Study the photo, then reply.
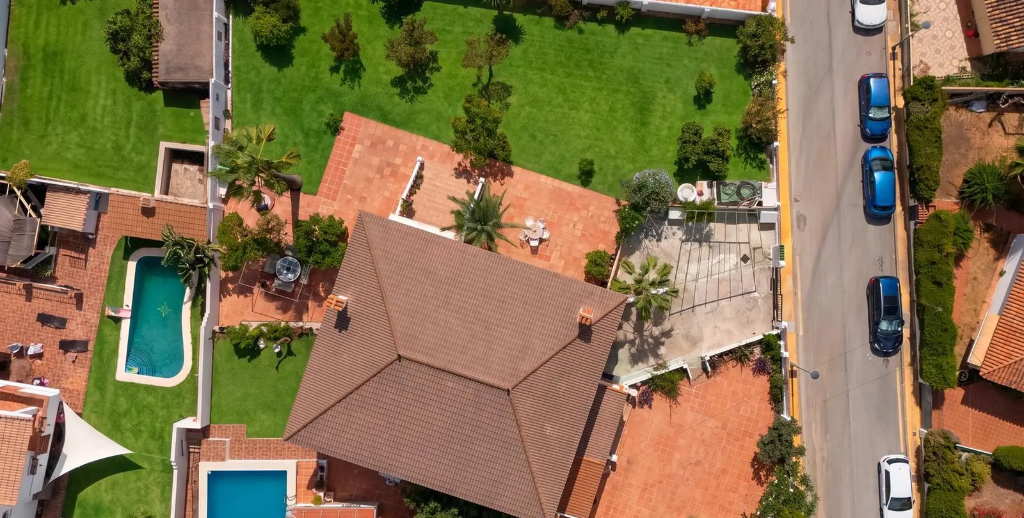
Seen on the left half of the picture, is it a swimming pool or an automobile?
swimming pool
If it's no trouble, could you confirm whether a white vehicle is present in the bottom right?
Yes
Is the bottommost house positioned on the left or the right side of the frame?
left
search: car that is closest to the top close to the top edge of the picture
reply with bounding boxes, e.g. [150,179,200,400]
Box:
[852,0,891,30]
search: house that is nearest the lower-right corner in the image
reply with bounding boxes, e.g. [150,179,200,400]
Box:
[956,234,1024,395]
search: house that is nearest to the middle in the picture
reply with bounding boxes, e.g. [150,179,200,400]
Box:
[282,209,631,518]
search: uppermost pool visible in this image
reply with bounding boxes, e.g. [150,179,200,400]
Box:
[115,247,199,387]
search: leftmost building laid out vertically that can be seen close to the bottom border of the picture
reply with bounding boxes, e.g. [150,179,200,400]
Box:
[0,378,66,518]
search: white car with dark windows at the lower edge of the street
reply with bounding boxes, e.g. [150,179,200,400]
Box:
[878,454,919,518]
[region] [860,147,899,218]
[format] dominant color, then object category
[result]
blue car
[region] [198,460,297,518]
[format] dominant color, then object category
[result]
blue swimming pool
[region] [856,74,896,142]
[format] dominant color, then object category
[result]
blue car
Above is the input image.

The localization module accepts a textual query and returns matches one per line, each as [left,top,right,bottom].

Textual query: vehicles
[852,0,891,30]
[856,74,896,142]
[878,454,919,518]
[865,276,909,351]
[860,147,899,218]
